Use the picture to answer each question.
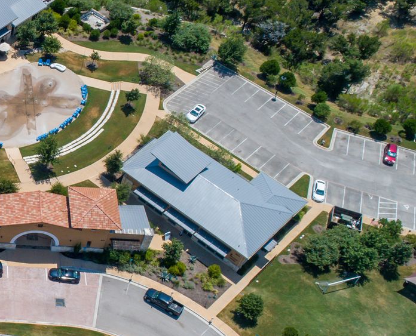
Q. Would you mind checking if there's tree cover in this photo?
Yes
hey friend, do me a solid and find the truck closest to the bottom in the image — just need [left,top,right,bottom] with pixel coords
[144,292,185,318]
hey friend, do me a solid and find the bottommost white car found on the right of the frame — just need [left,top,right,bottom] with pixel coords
[313,179,327,203]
